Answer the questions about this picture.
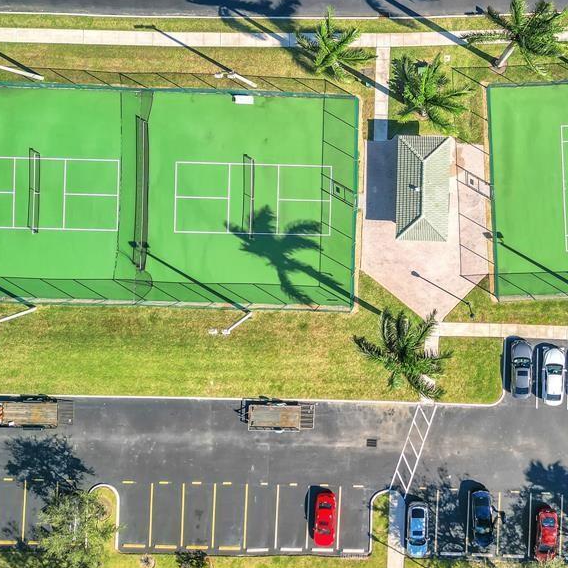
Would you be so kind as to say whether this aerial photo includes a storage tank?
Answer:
No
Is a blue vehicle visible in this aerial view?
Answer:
Yes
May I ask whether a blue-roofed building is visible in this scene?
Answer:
No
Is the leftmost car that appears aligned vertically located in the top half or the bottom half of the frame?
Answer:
bottom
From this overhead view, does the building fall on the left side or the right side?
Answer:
right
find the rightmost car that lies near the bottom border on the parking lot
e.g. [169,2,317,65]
[534,505,559,560]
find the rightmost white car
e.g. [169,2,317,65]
[541,347,567,404]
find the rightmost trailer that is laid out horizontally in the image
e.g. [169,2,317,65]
[233,402,315,434]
